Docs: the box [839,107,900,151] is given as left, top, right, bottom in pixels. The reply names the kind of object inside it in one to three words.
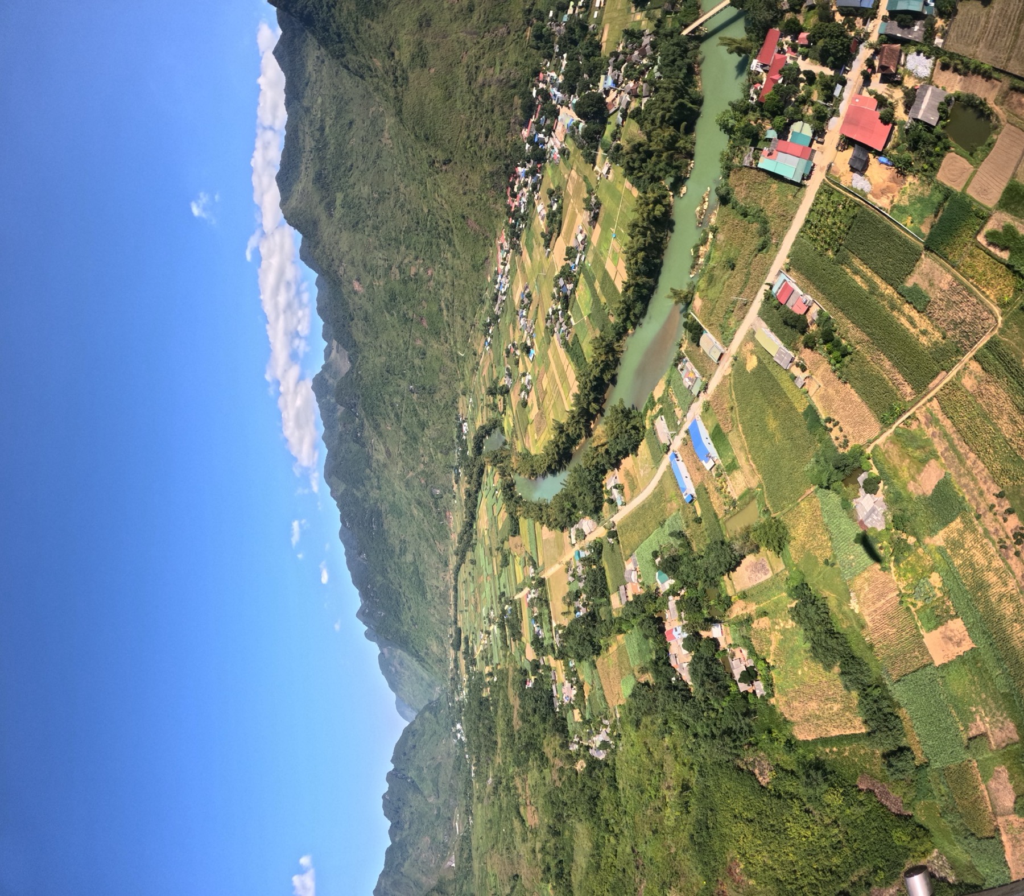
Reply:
building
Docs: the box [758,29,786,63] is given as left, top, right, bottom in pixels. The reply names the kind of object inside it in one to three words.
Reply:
house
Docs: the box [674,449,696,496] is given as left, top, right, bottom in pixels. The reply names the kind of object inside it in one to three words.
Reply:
house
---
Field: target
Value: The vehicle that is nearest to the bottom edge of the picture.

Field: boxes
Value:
[812,130,826,148]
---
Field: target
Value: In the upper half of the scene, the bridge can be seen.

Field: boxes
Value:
[683,0,735,34]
